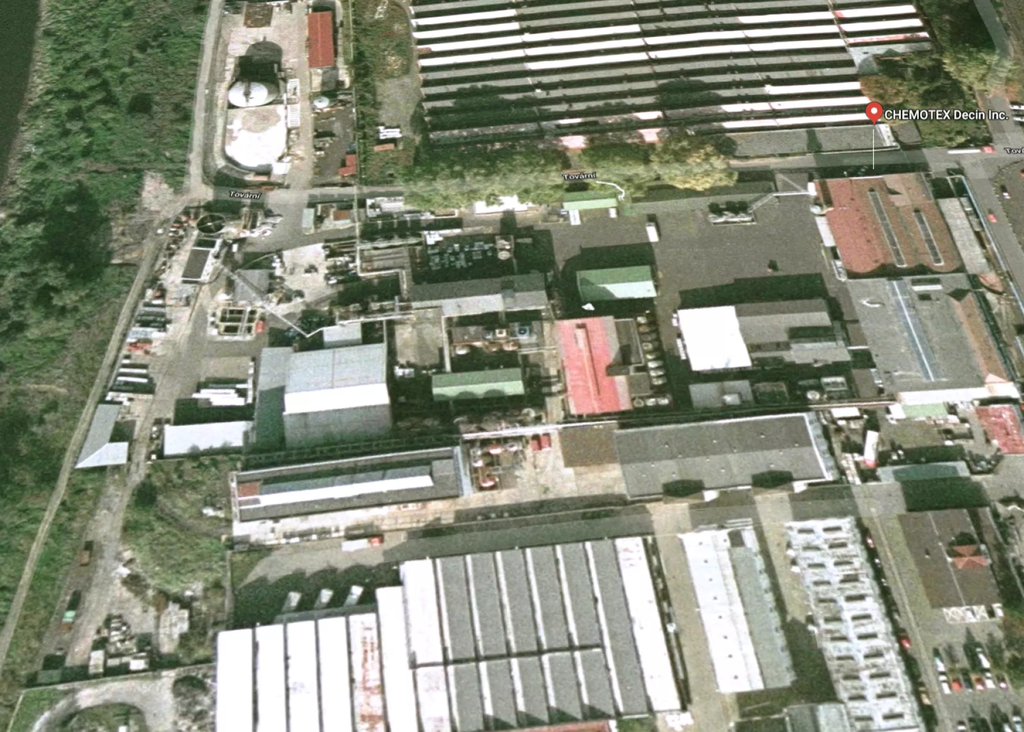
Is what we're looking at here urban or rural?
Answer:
urban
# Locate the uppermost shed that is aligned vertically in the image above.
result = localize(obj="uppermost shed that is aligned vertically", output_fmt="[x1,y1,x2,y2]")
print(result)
[308,11,334,76]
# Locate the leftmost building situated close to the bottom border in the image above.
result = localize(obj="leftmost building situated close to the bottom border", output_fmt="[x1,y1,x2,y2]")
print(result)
[219,608,390,732]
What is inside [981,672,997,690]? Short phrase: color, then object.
white car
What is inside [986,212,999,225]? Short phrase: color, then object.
red vehicle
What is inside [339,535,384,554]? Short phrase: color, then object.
white vehicle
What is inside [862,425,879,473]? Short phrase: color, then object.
white vehicle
